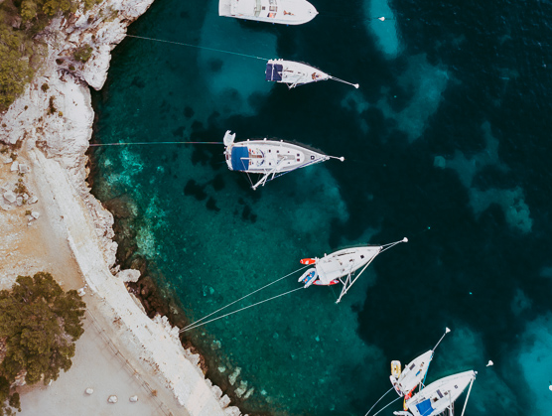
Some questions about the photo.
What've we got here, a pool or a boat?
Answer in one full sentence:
Visible in the photo is a boat.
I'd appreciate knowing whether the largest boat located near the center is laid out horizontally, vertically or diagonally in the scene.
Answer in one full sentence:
From this overhead view, the largest boat located near the center appears to run horizontally.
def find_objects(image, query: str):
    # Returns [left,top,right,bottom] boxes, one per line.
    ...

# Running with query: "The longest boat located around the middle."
[224,139,331,192]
